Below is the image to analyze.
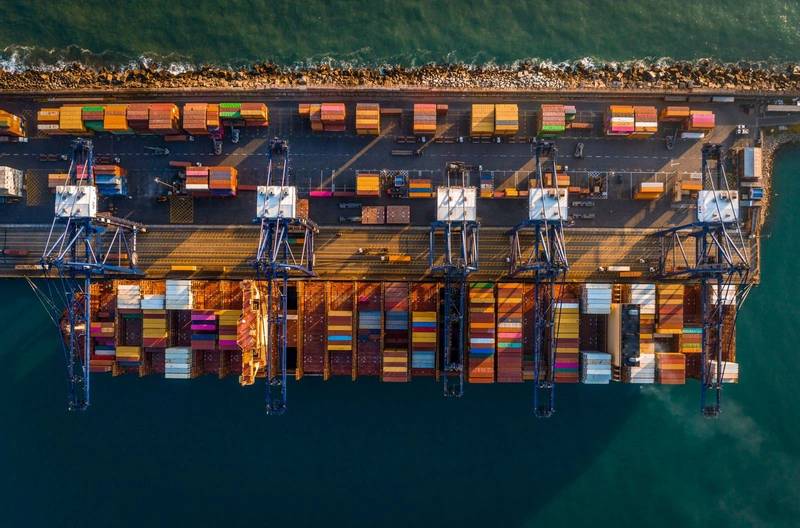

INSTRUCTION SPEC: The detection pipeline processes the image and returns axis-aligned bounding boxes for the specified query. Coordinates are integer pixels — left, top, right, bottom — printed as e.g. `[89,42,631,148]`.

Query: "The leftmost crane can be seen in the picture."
[42,141,150,414]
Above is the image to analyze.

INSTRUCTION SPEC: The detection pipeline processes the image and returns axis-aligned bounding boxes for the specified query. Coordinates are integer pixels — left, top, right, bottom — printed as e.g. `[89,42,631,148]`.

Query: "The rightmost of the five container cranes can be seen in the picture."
[648,143,748,421]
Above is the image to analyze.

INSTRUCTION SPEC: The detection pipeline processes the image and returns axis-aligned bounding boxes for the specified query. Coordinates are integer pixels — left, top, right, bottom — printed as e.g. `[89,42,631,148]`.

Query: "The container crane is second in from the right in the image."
[504,141,573,422]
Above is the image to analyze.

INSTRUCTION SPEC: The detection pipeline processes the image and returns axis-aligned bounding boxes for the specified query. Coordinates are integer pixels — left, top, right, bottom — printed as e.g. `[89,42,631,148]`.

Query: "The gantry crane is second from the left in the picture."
[255,138,323,417]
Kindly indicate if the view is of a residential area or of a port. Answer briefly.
port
